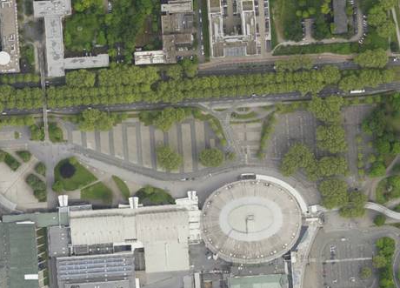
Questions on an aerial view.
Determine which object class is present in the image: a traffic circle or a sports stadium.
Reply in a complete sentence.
I can see a sports stadium in this picture.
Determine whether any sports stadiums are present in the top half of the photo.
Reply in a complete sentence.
No, I see no sports stadium in the top half of the photo.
